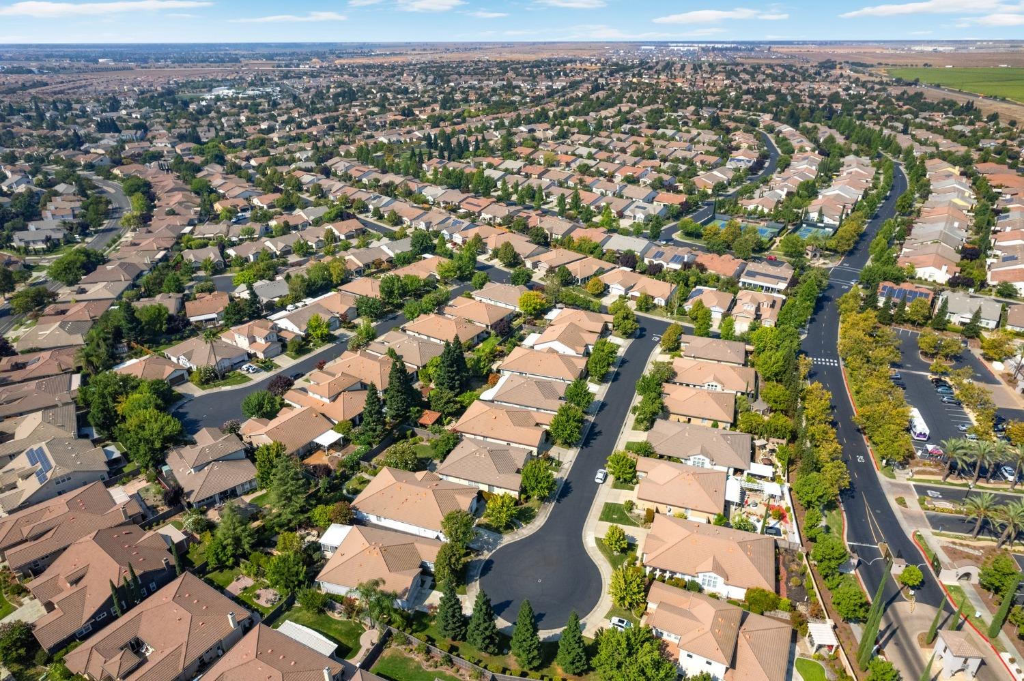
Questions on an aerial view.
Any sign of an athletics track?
No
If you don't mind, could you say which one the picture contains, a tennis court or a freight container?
tennis court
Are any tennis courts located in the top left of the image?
No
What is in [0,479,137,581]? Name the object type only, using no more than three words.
house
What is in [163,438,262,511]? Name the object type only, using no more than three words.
house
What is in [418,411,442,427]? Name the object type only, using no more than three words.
gazebo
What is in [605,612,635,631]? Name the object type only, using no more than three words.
car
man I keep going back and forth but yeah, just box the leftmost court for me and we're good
[700,211,782,244]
